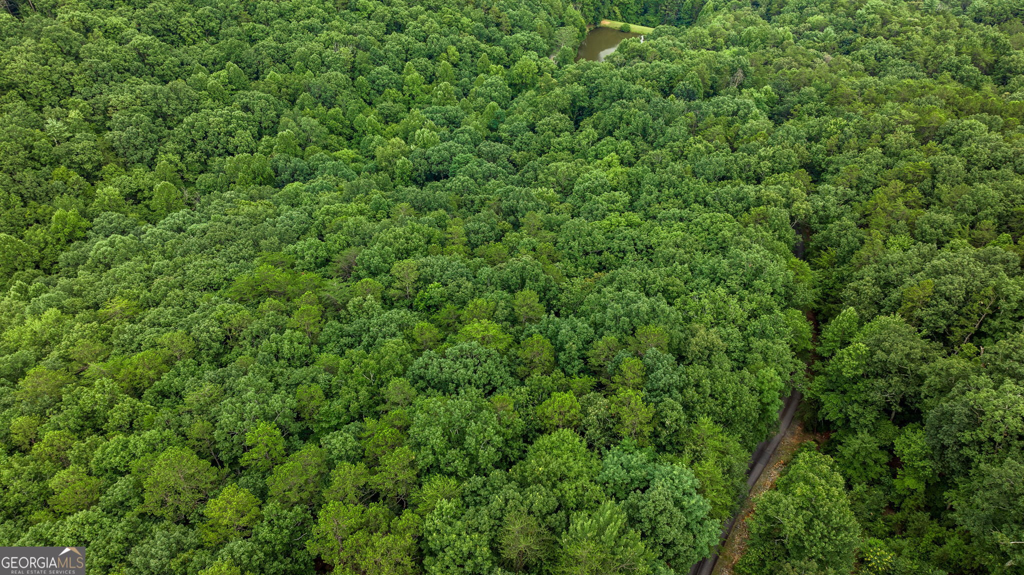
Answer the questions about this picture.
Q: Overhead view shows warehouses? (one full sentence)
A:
No, I can't see a single warehouse in this photo.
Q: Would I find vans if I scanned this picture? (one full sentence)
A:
No, no van is visible in the scene.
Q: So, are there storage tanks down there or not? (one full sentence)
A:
No, the photo shows no storage tank.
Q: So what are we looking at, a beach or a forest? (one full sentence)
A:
What you see here is a forest.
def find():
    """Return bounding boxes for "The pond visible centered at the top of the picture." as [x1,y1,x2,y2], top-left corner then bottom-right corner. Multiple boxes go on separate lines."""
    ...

[574,27,656,73]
